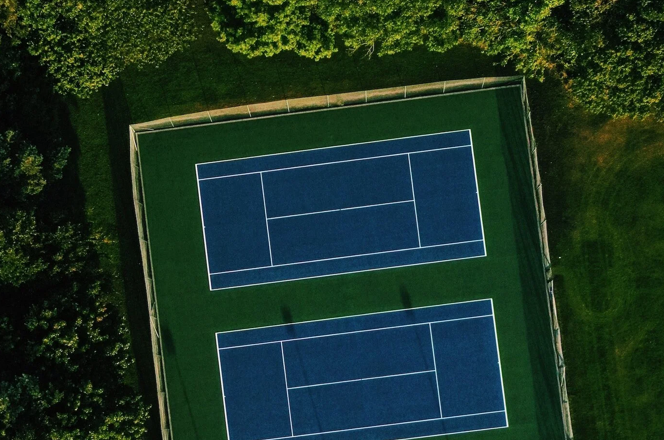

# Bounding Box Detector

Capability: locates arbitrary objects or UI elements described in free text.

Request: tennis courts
[215,298,509,440]
[195,129,487,291]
